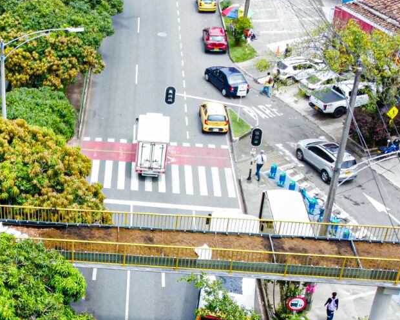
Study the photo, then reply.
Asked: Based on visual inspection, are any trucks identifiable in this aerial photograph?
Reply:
Yes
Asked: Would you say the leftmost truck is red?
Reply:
No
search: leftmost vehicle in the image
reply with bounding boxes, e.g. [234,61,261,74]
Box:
[133,108,172,179]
